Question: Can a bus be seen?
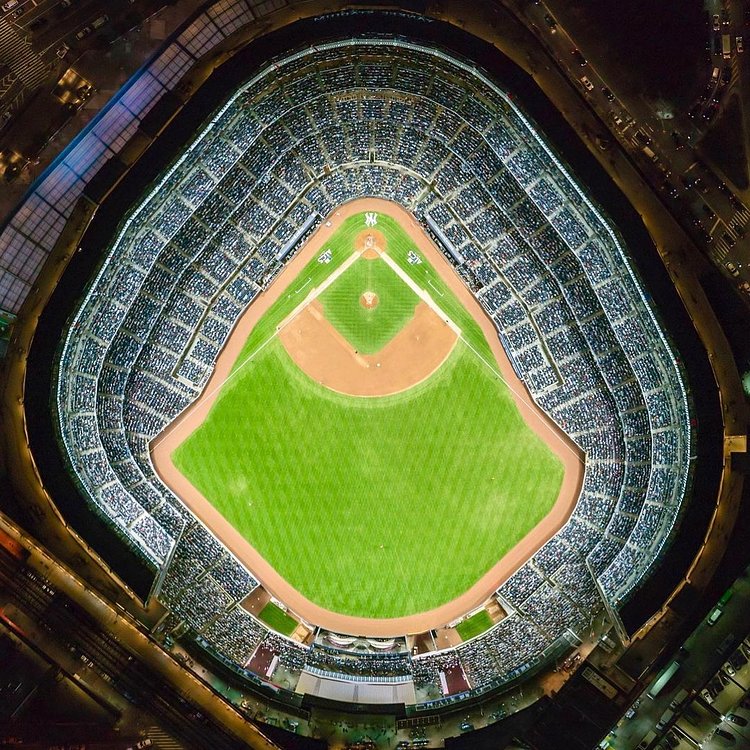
Yes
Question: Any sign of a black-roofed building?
Yes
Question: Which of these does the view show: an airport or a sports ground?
sports ground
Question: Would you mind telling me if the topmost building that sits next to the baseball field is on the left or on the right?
left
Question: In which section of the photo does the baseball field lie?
center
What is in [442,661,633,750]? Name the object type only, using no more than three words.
building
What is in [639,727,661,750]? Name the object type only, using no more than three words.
truck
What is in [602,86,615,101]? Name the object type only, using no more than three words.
vehicle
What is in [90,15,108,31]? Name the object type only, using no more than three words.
vehicle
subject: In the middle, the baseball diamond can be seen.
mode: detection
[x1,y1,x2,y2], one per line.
[150,198,586,635]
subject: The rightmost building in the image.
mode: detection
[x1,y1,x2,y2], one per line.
[727,436,746,471]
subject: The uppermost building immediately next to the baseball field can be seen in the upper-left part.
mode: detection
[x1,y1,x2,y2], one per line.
[0,0,264,316]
